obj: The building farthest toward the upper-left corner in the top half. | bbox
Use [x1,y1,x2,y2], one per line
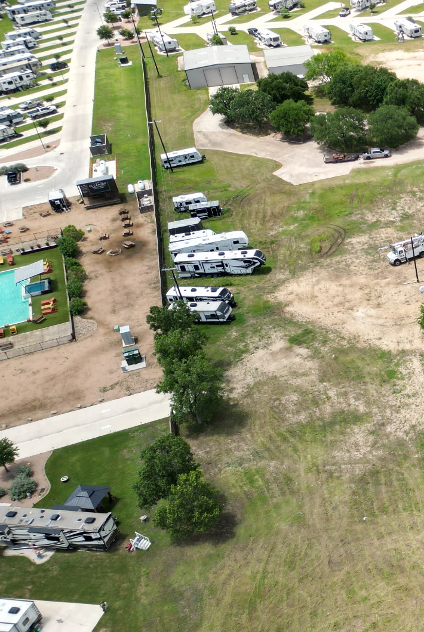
[127,0,159,16]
